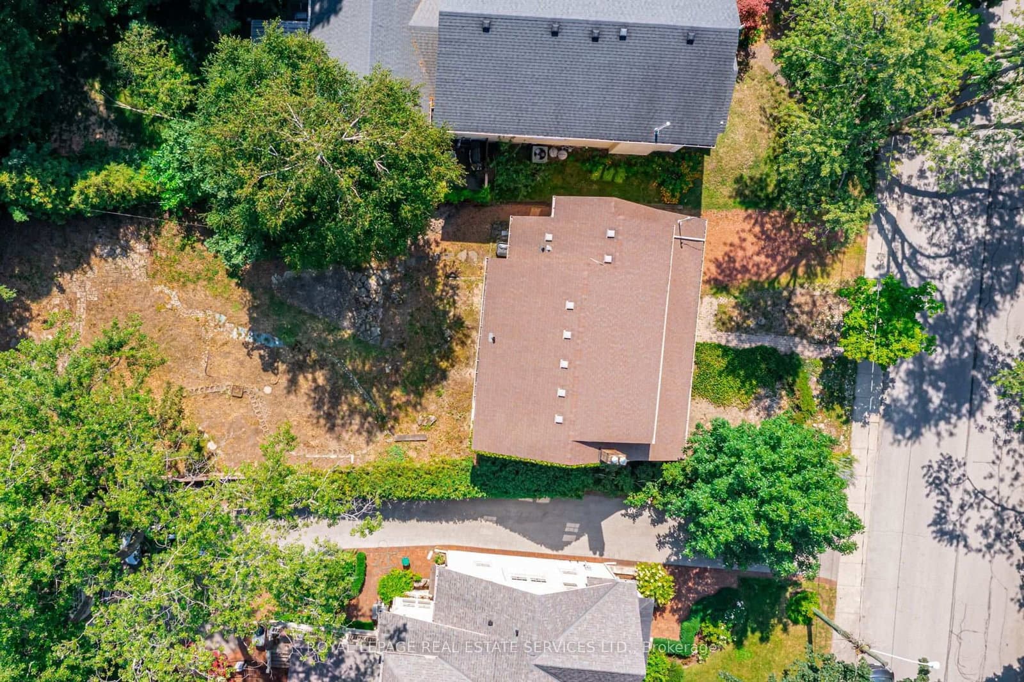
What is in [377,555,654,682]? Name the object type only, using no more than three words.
house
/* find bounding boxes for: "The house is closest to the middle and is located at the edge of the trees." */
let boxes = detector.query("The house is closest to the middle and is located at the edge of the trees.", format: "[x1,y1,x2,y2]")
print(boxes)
[470,197,709,465]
